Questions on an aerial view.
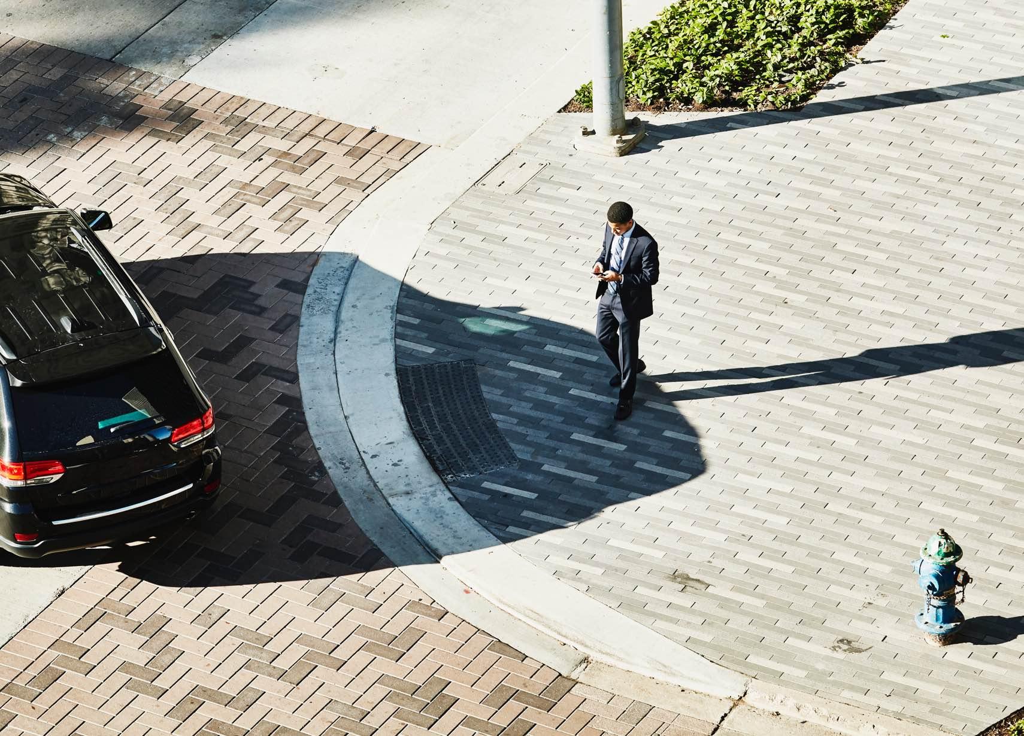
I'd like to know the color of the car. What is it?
black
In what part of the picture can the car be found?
left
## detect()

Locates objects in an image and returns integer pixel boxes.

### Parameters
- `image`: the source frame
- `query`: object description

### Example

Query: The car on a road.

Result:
[0,177,223,564]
